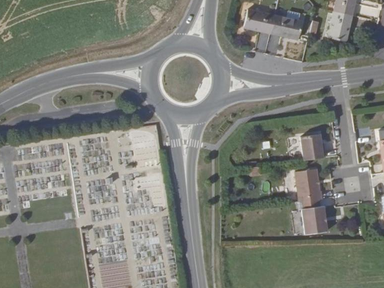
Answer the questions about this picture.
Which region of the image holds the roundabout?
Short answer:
top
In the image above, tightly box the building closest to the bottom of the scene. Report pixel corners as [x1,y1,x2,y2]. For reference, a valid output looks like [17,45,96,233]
[302,206,329,234]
